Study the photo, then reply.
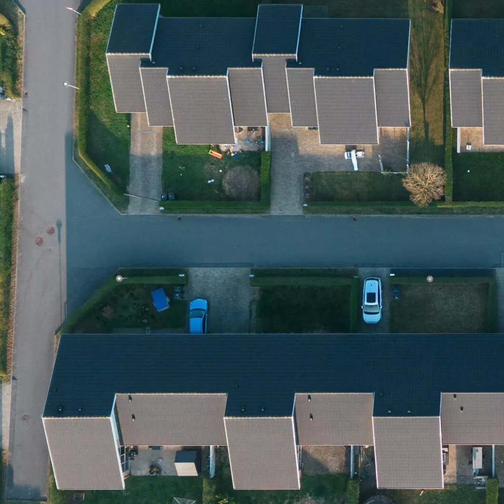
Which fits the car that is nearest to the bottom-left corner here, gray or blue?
blue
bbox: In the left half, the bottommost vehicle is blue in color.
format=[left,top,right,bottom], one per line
[184,299,207,334]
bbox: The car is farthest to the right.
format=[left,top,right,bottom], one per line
[359,277,381,324]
